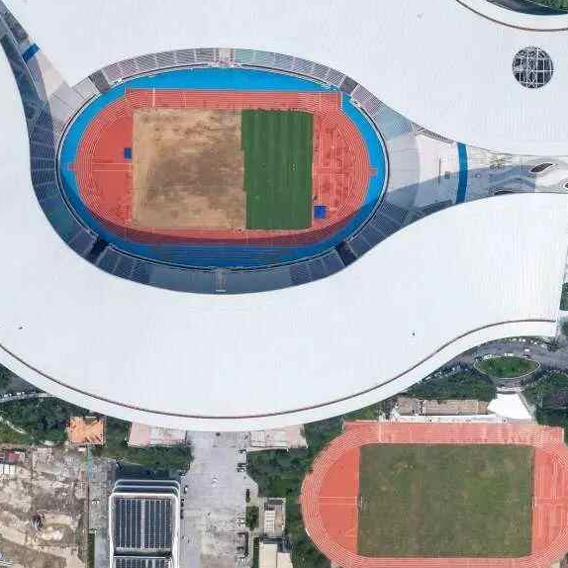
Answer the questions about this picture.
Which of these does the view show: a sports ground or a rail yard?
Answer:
sports ground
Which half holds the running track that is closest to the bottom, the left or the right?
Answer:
right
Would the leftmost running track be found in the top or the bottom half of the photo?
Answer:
top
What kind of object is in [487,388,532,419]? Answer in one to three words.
building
